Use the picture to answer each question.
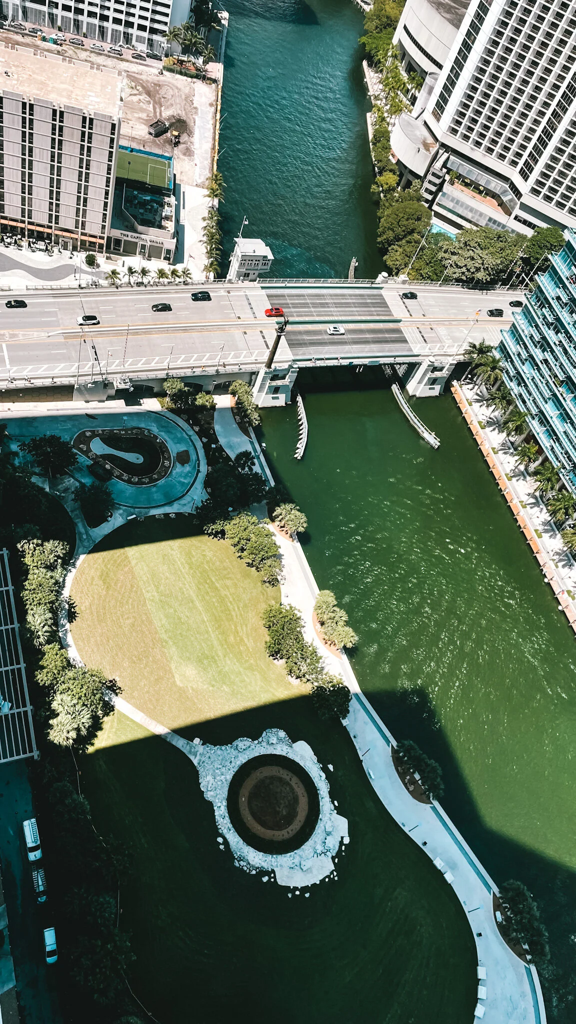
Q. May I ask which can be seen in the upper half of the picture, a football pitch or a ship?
football pitch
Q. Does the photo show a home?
Yes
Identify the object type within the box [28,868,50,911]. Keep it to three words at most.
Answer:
truck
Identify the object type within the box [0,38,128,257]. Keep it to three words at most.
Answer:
building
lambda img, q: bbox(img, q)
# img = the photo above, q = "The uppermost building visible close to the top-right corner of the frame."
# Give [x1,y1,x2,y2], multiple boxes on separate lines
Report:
[385,0,576,275]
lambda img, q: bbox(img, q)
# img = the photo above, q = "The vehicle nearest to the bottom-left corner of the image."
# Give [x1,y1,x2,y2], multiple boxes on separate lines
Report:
[41,923,60,969]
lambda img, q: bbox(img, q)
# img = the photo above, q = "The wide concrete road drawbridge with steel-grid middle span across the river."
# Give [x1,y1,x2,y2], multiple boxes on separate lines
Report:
[0,278,545,415]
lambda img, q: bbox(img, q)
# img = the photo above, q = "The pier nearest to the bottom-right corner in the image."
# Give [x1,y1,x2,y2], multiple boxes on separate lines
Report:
[451,387,576,641]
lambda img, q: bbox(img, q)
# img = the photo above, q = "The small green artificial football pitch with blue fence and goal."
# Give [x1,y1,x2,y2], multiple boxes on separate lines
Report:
[115,136,176,197]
